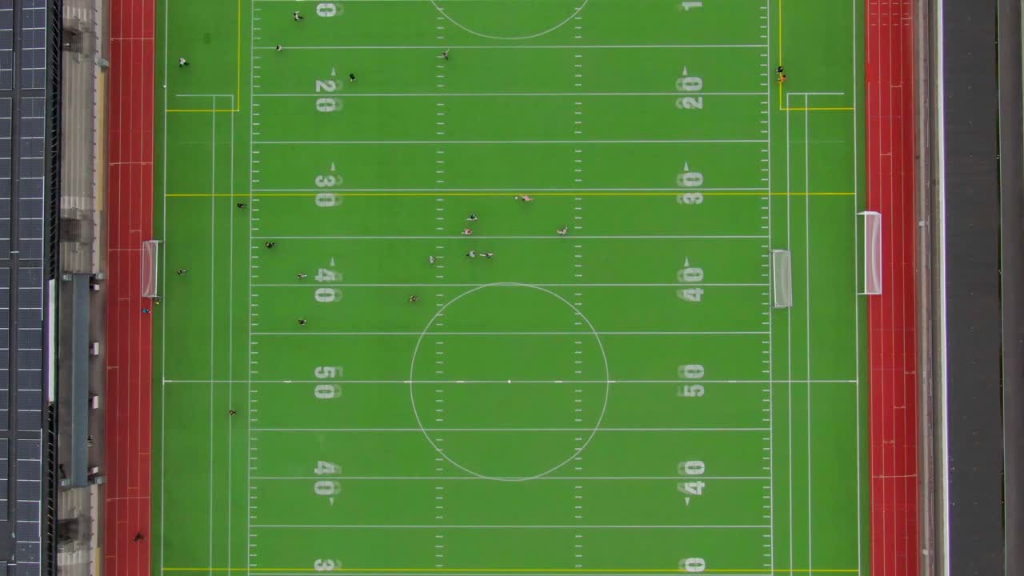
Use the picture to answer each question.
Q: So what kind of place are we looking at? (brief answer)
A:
sports ground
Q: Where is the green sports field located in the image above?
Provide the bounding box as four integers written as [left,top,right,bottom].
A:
[151,0,871,576]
